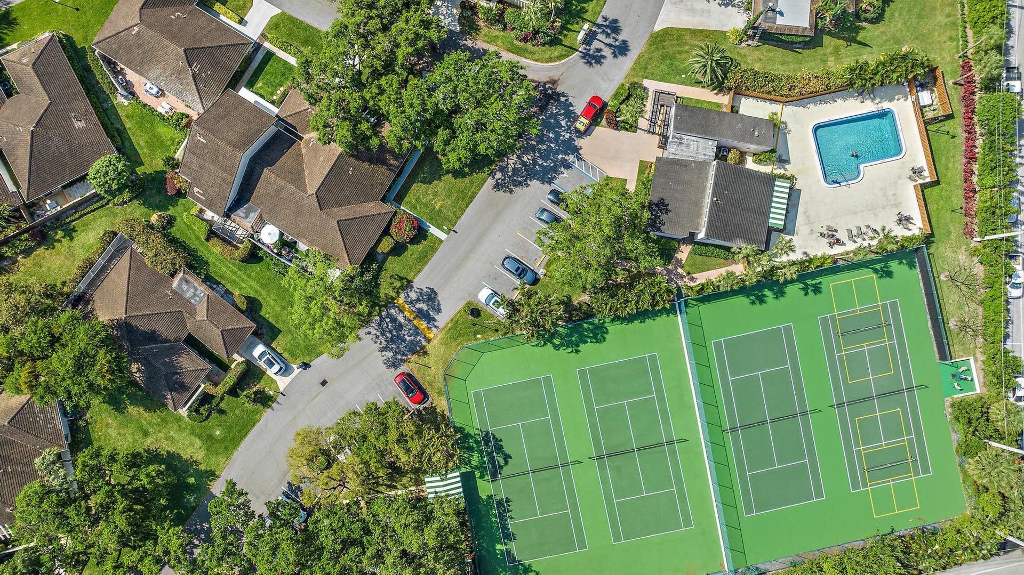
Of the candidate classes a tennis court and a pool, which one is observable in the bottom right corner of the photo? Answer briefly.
tennis court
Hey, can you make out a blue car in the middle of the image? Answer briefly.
Yes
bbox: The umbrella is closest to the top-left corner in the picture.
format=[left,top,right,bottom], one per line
[257,224,276,243]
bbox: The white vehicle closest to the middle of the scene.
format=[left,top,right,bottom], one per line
[476,288,510,318]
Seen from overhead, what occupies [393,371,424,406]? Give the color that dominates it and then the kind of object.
red car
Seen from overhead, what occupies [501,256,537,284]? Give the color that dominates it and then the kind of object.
blue car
